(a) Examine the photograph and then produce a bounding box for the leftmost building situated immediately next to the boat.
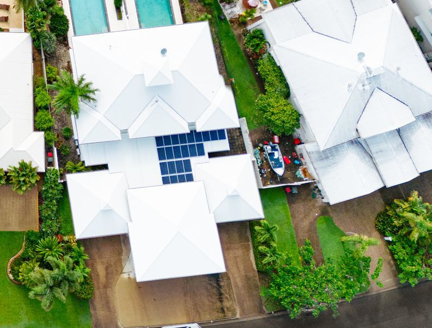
[65,22,264,283]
